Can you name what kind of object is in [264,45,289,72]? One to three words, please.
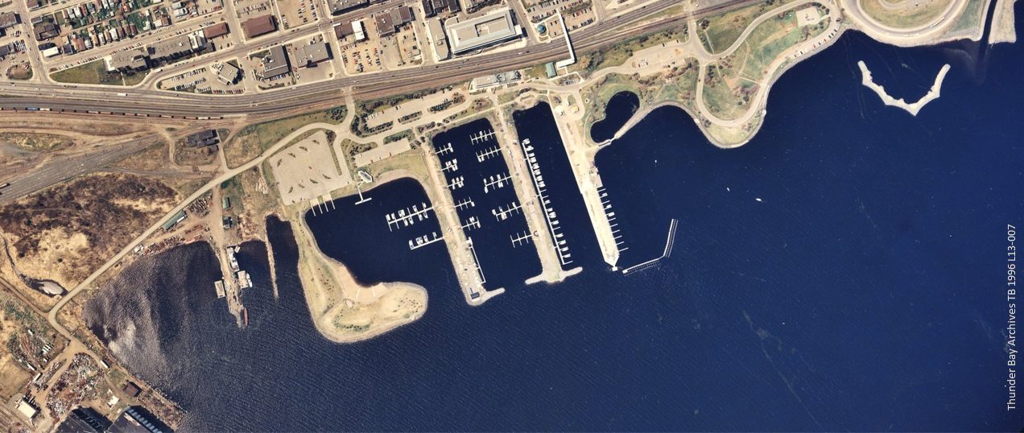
building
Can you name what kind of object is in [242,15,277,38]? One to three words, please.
building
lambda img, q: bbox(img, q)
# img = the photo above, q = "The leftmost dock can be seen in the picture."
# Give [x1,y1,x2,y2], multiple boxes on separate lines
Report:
[211,243,244,327]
